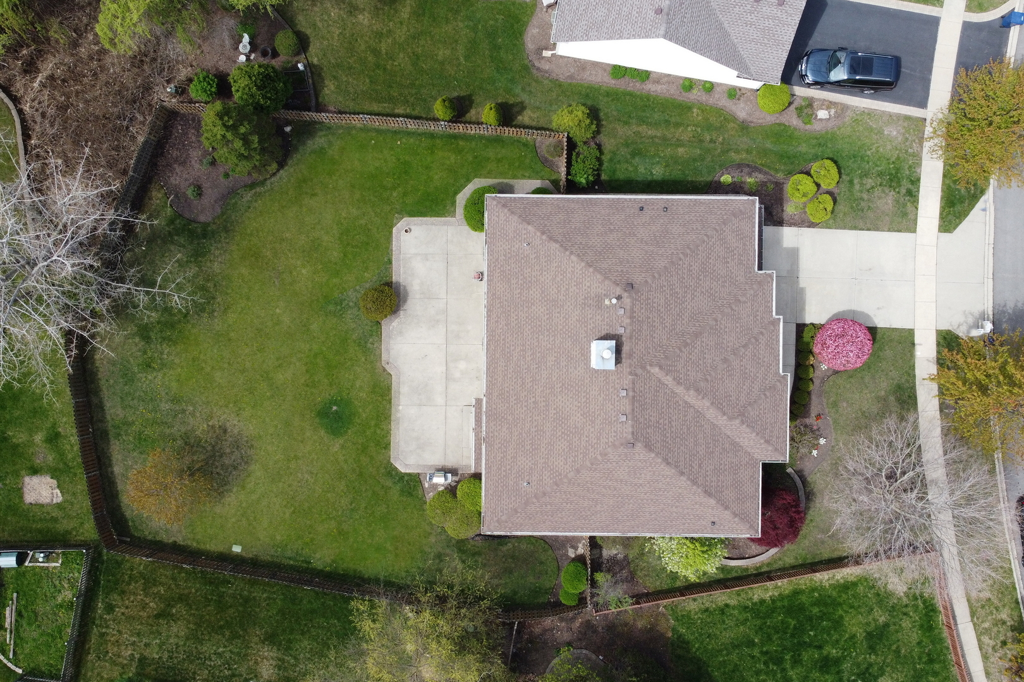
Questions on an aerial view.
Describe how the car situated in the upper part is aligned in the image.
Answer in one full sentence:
Seen from above, the car situated in the upper part lies from side to side.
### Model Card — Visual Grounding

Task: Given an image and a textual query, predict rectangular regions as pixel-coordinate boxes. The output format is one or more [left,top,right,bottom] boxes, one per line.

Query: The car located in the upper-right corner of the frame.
[801,44,903,93]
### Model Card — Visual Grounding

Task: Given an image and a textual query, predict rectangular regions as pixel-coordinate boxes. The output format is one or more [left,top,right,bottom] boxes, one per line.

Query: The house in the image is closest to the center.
[471,194,790,538]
